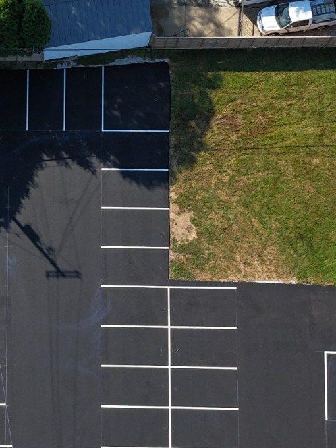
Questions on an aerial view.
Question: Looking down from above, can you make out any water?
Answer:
No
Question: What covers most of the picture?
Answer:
paved ground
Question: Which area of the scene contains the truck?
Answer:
top right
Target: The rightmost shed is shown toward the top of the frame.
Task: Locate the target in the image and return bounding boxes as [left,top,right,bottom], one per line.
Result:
[36,0,153,60]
